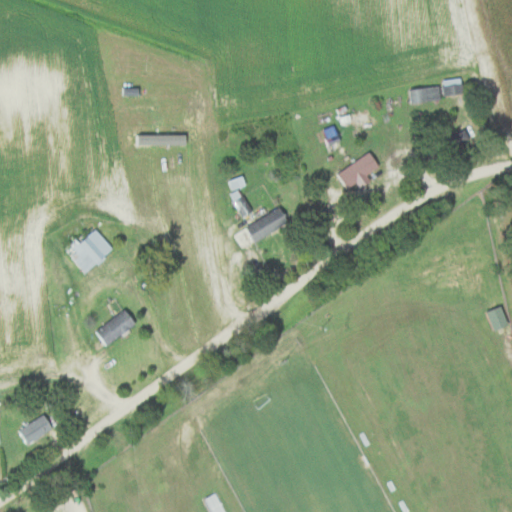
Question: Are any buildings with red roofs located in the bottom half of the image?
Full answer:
No, in the bottom half of the image there is no building with a red roof.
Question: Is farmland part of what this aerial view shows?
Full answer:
Yes, farmland shows up in the scene.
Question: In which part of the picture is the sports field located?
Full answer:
The sports field appears toward the bottom of the photo.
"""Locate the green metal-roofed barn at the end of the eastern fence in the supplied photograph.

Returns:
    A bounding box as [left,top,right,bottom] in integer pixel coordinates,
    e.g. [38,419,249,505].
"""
[486,307,508,330]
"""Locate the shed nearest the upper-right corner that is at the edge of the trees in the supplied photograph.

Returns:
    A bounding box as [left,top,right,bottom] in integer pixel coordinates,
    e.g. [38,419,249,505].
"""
[440,78,462,96]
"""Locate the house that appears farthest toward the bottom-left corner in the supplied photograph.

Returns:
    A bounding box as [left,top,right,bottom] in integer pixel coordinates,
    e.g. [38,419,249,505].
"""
[18,414,52,444]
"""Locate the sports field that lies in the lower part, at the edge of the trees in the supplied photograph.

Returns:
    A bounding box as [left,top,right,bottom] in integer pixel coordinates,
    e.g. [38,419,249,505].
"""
[200,352,394,512]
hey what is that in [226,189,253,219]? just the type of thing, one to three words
shed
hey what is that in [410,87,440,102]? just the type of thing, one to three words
shed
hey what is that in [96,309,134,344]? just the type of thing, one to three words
house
